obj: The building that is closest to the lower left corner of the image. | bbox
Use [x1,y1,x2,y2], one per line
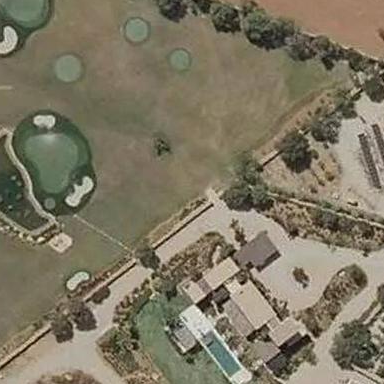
[167,326,198,353]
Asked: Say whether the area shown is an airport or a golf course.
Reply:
golf course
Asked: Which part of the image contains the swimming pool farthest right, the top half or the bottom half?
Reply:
bottom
